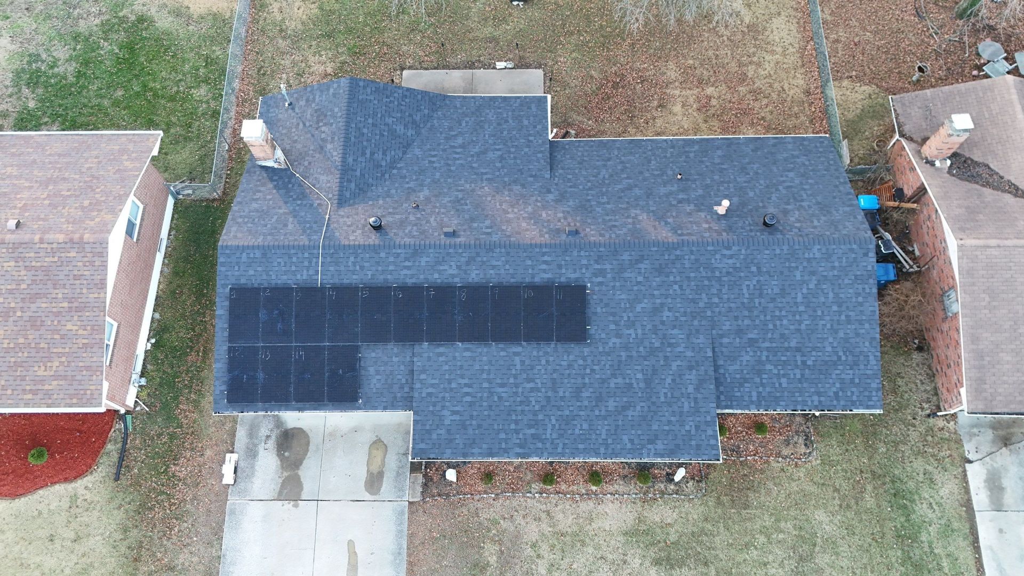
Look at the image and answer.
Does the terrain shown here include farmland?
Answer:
No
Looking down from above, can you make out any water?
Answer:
No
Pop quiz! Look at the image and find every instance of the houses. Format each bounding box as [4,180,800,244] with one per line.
[213,76,882,466]
[883,69,1024,420]
[0,129,173,418]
